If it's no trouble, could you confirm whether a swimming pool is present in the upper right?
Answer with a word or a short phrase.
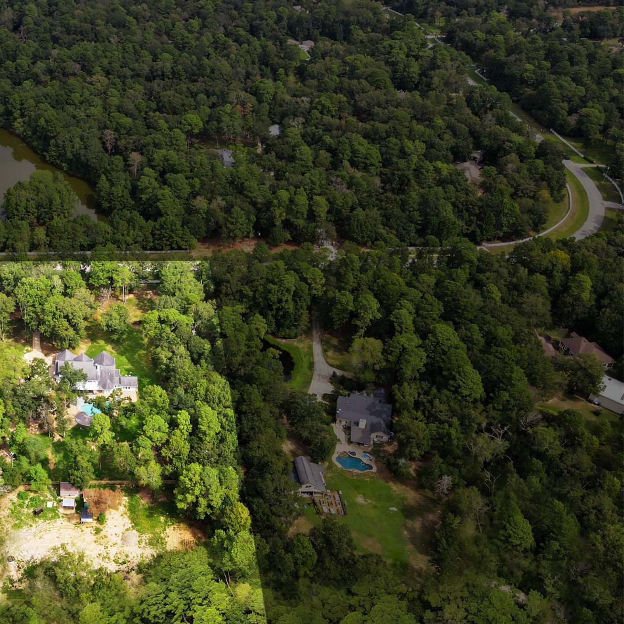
No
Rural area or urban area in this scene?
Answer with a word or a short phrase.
rural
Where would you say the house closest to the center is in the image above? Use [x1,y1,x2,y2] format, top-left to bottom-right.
[333,382,394,447]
